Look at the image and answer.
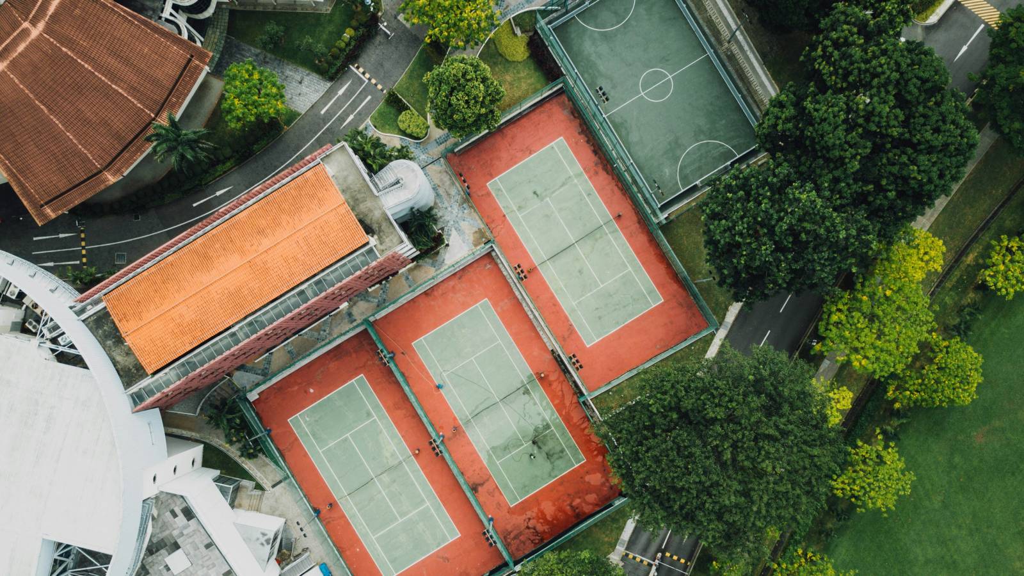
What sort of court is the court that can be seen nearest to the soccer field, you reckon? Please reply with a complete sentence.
I'd say the court that can be seen nearest to the soccer field is a tennis court.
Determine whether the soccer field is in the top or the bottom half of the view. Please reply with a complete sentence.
You can find the soccer field in the top half.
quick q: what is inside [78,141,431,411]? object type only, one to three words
building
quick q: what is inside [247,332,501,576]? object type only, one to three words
tennis court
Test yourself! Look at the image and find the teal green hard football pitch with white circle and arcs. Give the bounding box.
[555,0,764,202]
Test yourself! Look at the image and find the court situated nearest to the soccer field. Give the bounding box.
[449,90,711,393]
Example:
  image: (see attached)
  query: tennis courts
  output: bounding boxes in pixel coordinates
[370,254,627,559]
[247,332,501,576]
[449,90,711,393]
